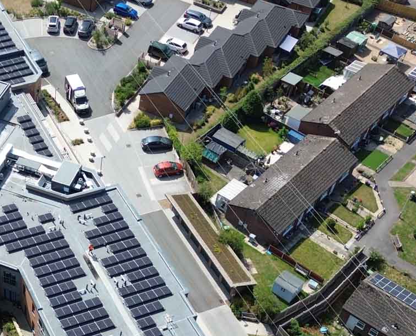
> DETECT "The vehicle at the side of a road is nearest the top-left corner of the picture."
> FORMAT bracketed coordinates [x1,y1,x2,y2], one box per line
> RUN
[48,14,60,33]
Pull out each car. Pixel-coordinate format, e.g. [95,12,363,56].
[176,19,205,35]
[80,19,94,36]
[141,138,173,154]
[185,11,211,28]
[48,14,60,33]
[114,6,137,19]
[146,42,175,61]
[64,14,77,33]
[31,50,49,72]
[160,38,188,54]
[154,164,184,178]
